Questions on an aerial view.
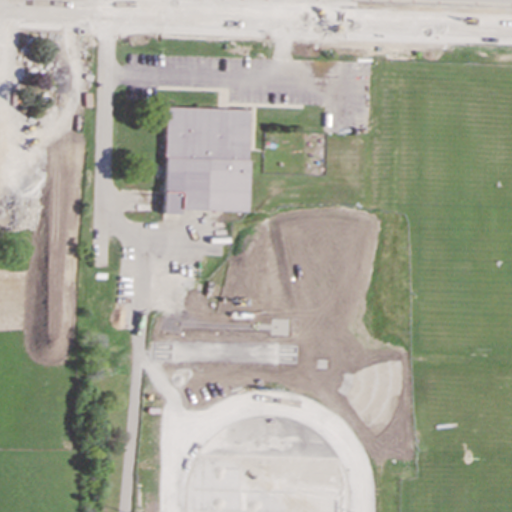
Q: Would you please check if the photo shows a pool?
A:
No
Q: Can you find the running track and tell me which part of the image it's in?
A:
bottom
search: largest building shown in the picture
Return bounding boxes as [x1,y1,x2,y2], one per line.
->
[162,106,252,213]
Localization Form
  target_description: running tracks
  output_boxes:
[162,394,374,512]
